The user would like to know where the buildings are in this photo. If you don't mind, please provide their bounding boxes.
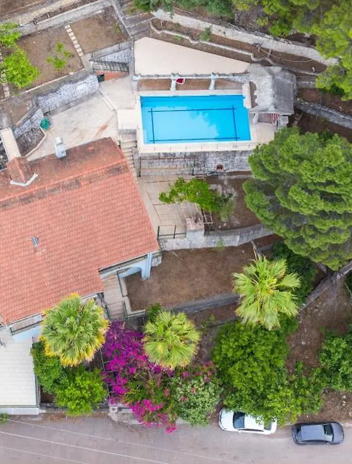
[0,136,157,348]
[250,67,300,133]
